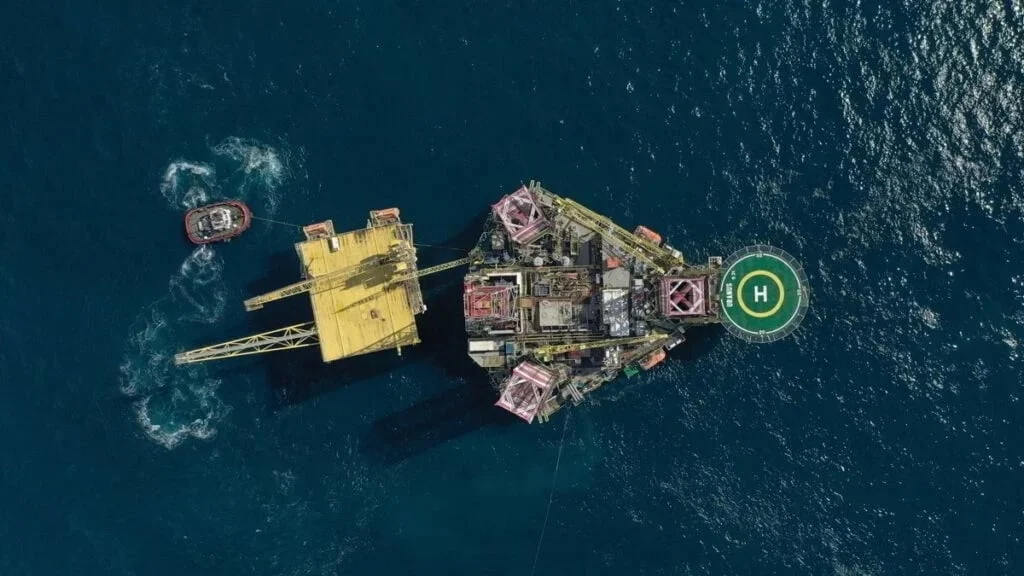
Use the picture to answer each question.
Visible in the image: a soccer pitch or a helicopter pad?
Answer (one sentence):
Of the two, only a helicopter pad appears.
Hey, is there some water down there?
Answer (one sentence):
Yes, there is water in the image.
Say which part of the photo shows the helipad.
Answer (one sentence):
The helipad sits in the right section of the image.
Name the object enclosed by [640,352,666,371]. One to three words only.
boat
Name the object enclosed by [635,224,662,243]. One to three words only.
boat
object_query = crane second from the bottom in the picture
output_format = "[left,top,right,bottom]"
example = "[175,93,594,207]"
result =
[243,243,420,312]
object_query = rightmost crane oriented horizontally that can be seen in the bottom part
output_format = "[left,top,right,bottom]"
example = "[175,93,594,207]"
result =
[529,332,670,363]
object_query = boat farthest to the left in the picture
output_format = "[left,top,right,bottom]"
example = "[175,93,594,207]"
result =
[185,200,254,244]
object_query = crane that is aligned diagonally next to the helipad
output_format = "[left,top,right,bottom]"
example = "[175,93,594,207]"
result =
[545,194,668,276]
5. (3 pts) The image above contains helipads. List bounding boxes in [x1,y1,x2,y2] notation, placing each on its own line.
[711,246,811,342]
